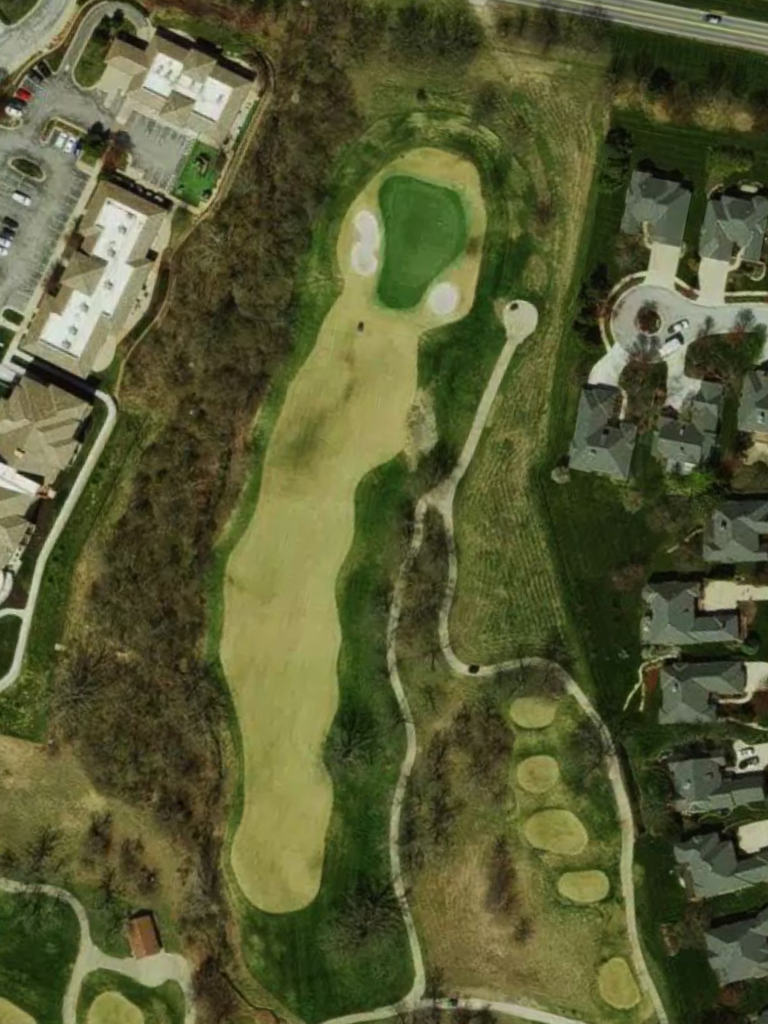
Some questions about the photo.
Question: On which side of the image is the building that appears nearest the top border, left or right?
left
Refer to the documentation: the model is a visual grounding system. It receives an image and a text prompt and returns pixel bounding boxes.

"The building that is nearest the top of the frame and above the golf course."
[106,32,254,150]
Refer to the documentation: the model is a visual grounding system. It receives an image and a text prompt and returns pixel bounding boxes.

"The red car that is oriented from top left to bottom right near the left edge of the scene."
[14,87,33,102]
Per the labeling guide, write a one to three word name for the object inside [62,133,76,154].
car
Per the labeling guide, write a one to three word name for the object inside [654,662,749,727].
house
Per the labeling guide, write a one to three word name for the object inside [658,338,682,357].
vehicle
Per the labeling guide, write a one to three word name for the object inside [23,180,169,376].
building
